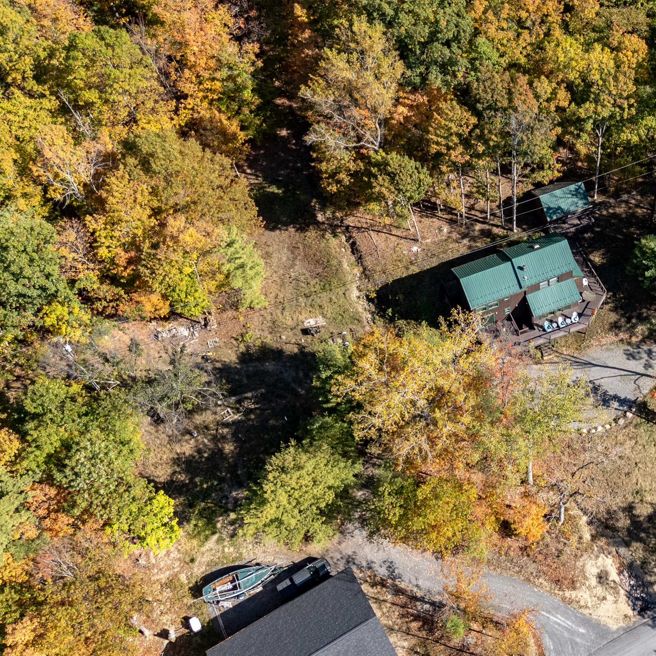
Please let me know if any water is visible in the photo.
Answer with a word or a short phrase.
No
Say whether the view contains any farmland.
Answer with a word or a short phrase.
No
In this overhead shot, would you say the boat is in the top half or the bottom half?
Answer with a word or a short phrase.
bottom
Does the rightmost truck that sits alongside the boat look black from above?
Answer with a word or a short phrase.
Yes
